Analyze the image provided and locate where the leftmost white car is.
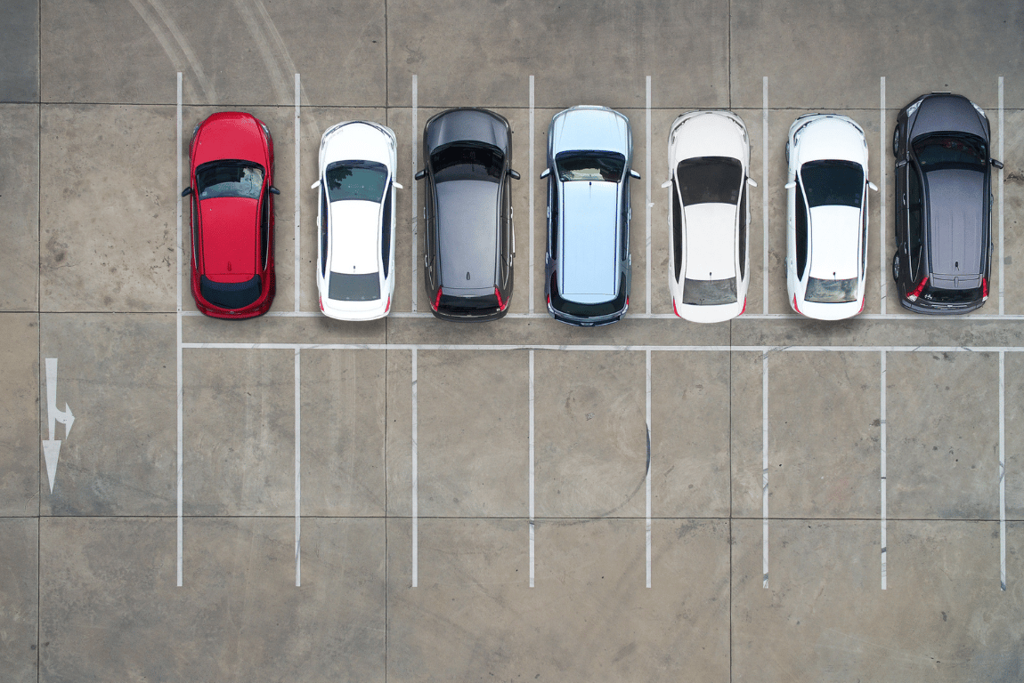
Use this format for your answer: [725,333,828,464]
[311,121,403,322]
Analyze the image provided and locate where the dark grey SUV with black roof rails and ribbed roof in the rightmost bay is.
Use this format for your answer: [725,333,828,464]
[893,93,1002,315]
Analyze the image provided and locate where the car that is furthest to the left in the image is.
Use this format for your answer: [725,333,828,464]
[182,111,281,321]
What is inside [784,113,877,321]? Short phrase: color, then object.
white car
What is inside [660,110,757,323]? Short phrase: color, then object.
white car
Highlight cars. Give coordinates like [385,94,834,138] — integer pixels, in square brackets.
[660,110,757,323]
[893,93,1002,315]
[784,113,877,321]
[415,108,520,322]
[539,105,640,327]
[311,121,403,322]
[182,111,281,321]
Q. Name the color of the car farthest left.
red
